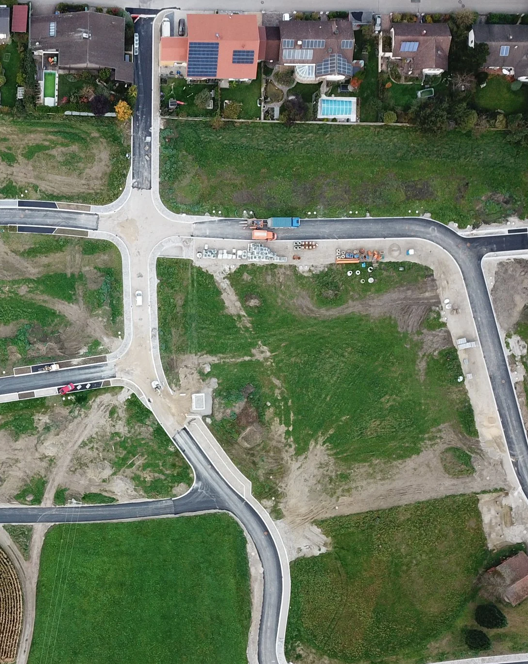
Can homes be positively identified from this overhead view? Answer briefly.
Yes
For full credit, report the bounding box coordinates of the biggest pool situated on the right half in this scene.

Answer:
[320,99,352,115]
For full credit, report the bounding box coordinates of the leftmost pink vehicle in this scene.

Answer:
[59,382,74,396]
